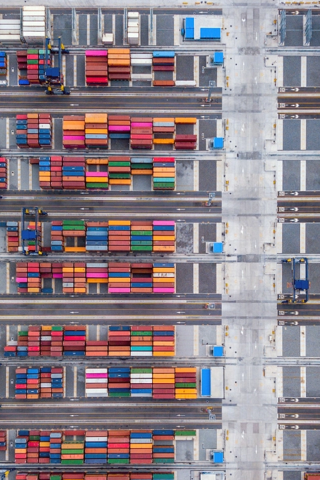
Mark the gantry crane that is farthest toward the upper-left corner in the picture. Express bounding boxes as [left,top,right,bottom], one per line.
[44,37,72,96]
